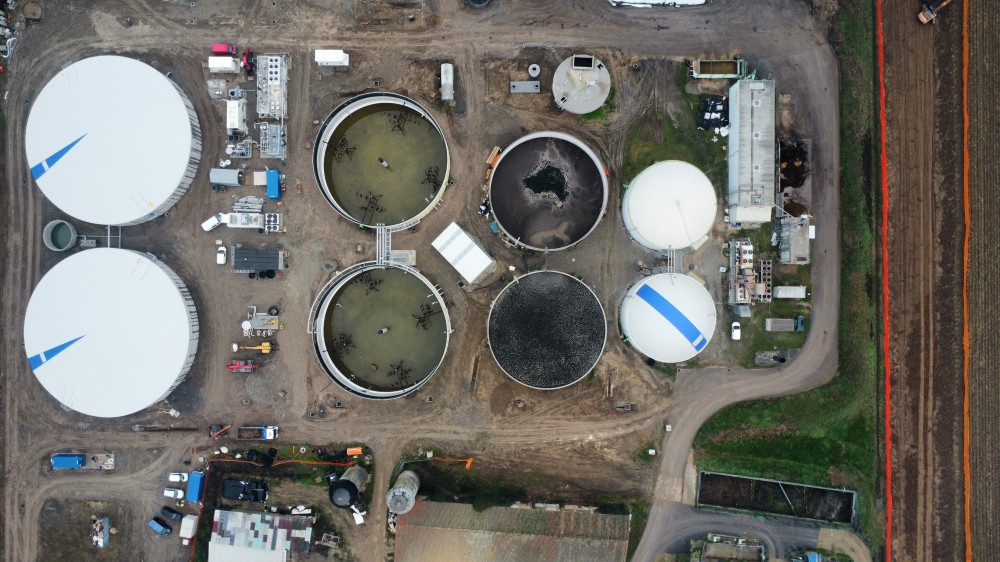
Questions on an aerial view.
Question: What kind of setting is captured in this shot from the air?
industrial area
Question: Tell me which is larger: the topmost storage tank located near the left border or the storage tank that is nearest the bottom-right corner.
the topmost storage tank located near the left border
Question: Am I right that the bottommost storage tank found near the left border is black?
No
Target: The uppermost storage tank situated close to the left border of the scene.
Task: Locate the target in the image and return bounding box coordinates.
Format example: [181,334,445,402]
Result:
[24,56,200,225]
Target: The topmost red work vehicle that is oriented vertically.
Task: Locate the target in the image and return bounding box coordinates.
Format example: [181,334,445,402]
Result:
[241,48,254,75]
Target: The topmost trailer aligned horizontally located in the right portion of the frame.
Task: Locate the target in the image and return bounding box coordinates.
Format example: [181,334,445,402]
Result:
[685,55,745,80]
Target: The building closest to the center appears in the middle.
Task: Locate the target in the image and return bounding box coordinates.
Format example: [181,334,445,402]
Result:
[432,222,492,282]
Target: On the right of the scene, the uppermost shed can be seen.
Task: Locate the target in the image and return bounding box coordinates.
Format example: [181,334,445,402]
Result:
[729,79,791,224]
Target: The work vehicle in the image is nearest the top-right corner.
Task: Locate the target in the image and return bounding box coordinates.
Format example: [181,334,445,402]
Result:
[921,0,949,22]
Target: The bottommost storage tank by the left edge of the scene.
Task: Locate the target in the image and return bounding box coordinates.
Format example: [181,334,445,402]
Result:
[23,249,199,416]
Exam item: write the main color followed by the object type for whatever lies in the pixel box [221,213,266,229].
white trailer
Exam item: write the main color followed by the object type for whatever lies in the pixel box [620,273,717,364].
white storage tank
